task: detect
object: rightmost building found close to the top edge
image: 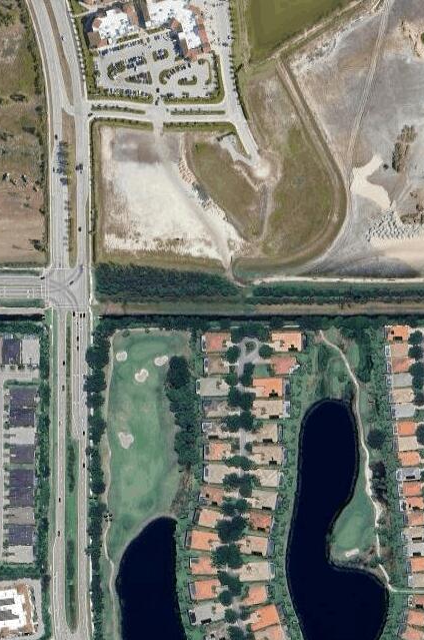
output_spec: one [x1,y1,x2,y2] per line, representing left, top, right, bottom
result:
[140,0,212,60]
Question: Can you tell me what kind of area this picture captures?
residential area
